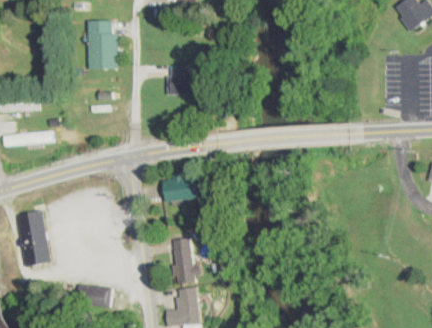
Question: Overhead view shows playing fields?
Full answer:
No, I can't see a single playing field in this photo.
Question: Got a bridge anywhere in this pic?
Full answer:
Yes, there is a bridge in the image.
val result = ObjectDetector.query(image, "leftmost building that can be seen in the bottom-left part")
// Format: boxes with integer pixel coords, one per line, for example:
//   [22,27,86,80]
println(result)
[18,212,52,266]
